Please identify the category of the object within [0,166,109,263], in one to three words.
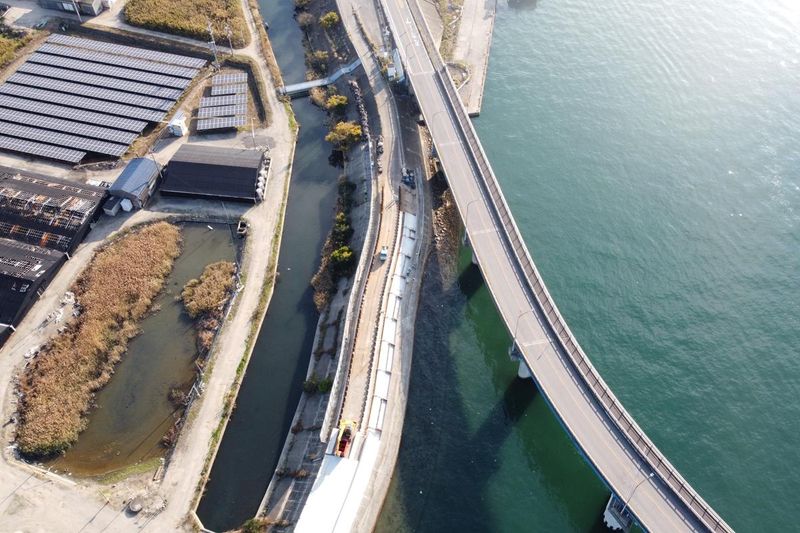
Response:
shed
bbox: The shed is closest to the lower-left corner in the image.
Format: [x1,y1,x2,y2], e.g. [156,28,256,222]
[0,240,66,336]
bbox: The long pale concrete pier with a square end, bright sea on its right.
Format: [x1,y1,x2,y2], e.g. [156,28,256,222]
[452,0,498,122]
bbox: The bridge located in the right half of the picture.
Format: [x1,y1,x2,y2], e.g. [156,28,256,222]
[377,0,741,533]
